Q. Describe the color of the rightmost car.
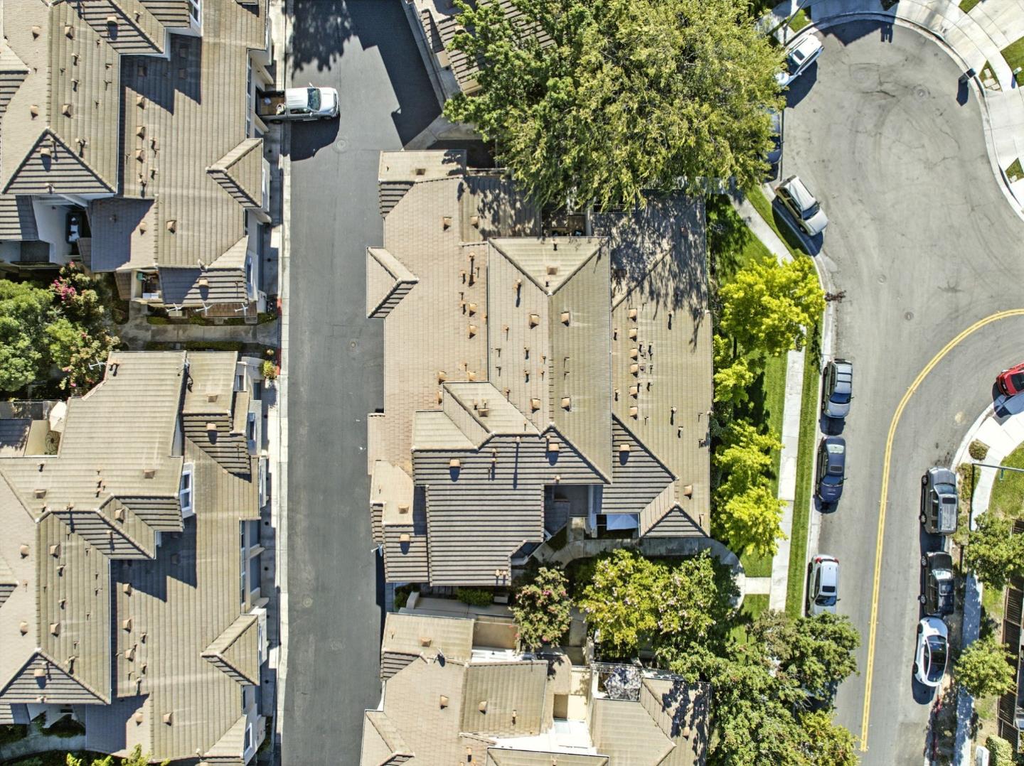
red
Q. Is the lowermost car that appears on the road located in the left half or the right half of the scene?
right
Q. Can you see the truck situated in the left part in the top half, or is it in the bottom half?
top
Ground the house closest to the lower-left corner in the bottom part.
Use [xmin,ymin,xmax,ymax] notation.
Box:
[0,350,277,766]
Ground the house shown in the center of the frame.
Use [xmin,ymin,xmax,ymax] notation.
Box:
[365,148,713,587]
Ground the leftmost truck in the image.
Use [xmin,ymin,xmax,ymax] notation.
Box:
[262,85,340,121]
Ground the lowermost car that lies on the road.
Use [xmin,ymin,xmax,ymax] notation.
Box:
[908,616,945,684]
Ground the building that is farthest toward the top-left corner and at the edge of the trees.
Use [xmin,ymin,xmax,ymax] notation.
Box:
[0,0,282,318]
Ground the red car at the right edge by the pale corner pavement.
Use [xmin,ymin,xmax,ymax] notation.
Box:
[996,358,1024,392]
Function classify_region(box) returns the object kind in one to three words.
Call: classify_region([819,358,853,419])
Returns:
car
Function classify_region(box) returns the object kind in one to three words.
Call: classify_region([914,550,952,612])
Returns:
car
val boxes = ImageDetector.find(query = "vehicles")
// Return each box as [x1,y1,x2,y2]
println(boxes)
[804,553,838,612]
[996,358,1024,392]
[916,467,954,533]
[914,550,952,612]
[262,85,340,121]
[765,173,821,235]
[908,616,945,684]
[780,36,825,93]
[819,358,853,419]
[813,435,847,501]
